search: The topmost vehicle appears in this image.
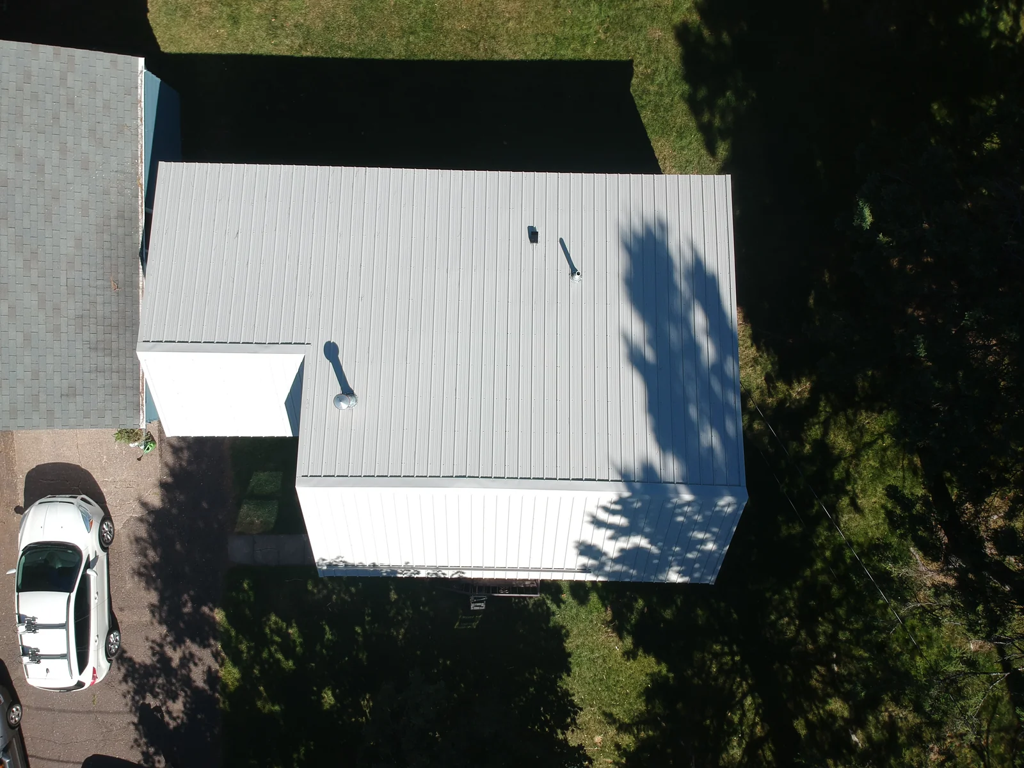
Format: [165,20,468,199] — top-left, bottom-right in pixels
[7,499,119,691]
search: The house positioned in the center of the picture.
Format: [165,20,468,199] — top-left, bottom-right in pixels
[134,161,749,585]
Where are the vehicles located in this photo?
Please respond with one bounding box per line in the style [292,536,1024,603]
[0,687,26,768]
[7,499,119,691]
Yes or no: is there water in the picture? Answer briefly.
No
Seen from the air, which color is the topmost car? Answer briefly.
white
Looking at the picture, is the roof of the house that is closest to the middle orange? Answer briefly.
No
